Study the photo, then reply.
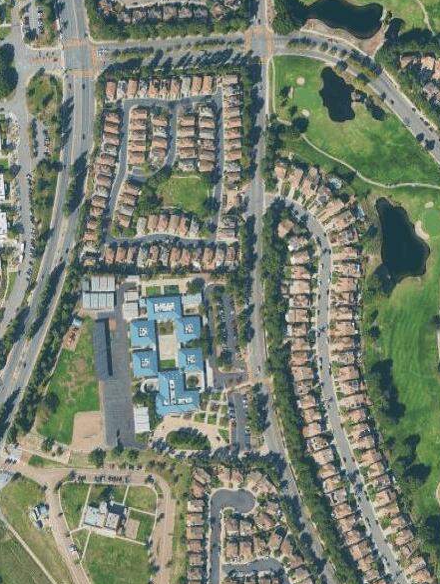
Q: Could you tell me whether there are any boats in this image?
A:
No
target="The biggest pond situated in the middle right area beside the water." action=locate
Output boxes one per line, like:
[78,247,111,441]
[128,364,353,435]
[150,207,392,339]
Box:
[379,199,428,291]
